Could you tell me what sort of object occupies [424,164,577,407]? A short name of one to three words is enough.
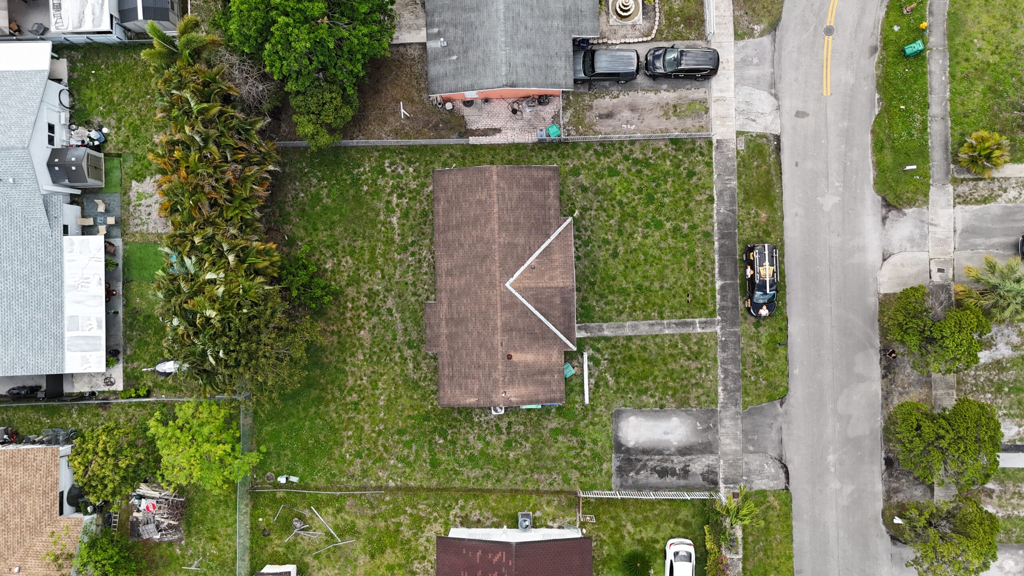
house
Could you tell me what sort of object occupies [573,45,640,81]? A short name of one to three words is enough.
car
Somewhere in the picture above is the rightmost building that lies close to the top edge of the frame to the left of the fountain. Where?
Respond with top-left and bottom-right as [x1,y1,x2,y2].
[426,0,600,101]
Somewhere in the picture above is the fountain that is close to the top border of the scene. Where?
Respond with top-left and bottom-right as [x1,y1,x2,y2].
[610,0,643,28]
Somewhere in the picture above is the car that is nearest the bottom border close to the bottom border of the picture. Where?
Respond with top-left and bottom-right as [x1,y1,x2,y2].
[667,541,697,576]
